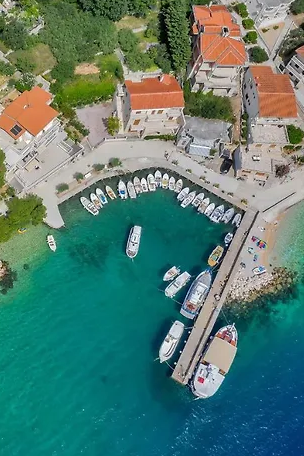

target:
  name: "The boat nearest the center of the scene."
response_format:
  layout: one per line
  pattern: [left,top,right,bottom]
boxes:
[128,223,142,260]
